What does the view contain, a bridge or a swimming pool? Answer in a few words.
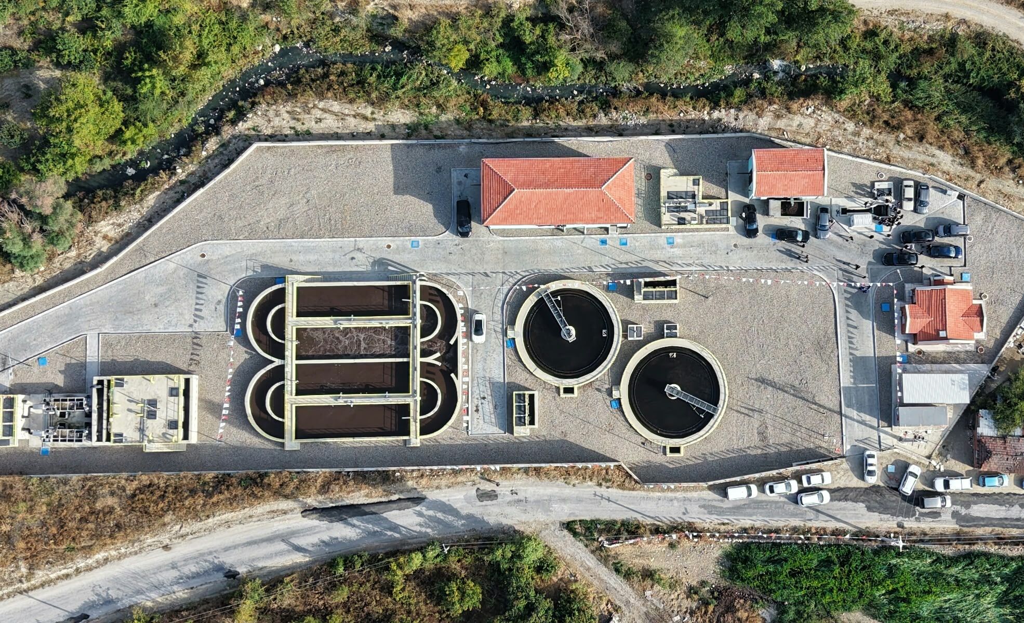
bridge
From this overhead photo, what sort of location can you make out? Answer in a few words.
industrial area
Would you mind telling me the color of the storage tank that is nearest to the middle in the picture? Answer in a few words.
black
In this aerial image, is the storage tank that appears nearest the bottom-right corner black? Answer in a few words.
Yes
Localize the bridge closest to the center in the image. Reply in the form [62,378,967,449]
[536,286,575,340]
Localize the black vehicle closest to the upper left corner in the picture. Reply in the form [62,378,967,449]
[456,199,472,237]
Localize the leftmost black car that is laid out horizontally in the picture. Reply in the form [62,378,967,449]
[775,228,810,243]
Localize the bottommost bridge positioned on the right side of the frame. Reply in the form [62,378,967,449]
[665,386,726,417]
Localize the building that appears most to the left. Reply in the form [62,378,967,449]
[481,156,635,236]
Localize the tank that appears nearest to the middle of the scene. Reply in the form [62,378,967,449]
[508,280,622,397]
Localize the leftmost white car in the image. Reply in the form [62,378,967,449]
[470,312,486,343]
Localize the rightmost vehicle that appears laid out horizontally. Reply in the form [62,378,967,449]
[978,473,1008,488]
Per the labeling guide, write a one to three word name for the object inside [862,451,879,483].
car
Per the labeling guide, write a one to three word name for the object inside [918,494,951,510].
vehicle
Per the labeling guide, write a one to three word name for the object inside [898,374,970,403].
shed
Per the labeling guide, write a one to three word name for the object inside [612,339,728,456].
storage tank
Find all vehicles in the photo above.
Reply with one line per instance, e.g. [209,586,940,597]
[456,199,472,237]
[764,480,798,496]
[801,472,831,486]
[742,204,760,239]
[797,490,830,507]
[932,476,972,492]
[897,463,922,497]
[882,251,918,266]
[775,228,810,243]
[914,182,932,214]
[928,244,962,259]
[900,181,916,211]
[862,451,879,483]
[900,228,935,244]
[470,312,486,343]
[725,484,758,500]
[918,494,951,510]
[934,222,970,238]
[978,473,1008,488]
[815,206,832,239]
